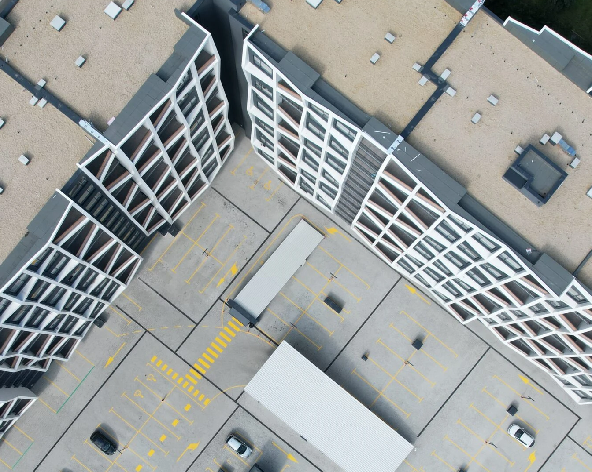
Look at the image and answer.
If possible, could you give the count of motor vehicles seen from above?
three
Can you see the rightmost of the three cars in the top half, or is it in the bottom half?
bottom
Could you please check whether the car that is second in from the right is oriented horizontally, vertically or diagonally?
diagonally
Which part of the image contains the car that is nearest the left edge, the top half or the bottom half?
bottom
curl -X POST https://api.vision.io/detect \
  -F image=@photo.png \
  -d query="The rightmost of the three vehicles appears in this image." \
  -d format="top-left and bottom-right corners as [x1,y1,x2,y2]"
[507,422,539,451]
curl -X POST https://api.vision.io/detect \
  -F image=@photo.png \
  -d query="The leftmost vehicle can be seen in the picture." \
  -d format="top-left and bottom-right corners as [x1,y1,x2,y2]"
[85,428,120,460]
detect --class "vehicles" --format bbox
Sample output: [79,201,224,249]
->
[223,433,253,460]
[85,428,120,460]
[507,422,539,451]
